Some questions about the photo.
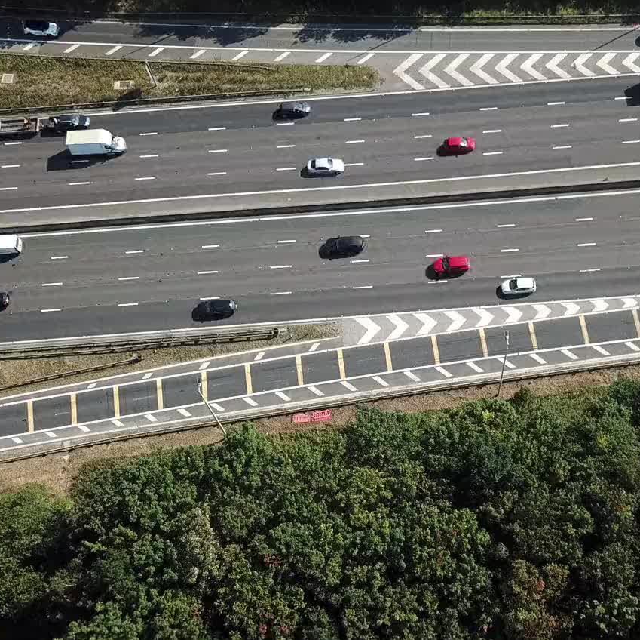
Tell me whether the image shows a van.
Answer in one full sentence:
Yes, a van appears in the view.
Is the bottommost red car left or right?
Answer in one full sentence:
The bottommost red car appears in the right half of the scene.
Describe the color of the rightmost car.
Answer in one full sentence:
The color of the rightmost car is white.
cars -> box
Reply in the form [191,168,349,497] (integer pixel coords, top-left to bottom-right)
[500,276,537,296]
[0,292,13,310]
[308,158,344,177]
[446,136,477,154]
[199,297,238,317]
[326,237,364,256]
[51,113,91,132]
[434,255,470,275]
[24,21,59,38]
[278,101,312,119]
